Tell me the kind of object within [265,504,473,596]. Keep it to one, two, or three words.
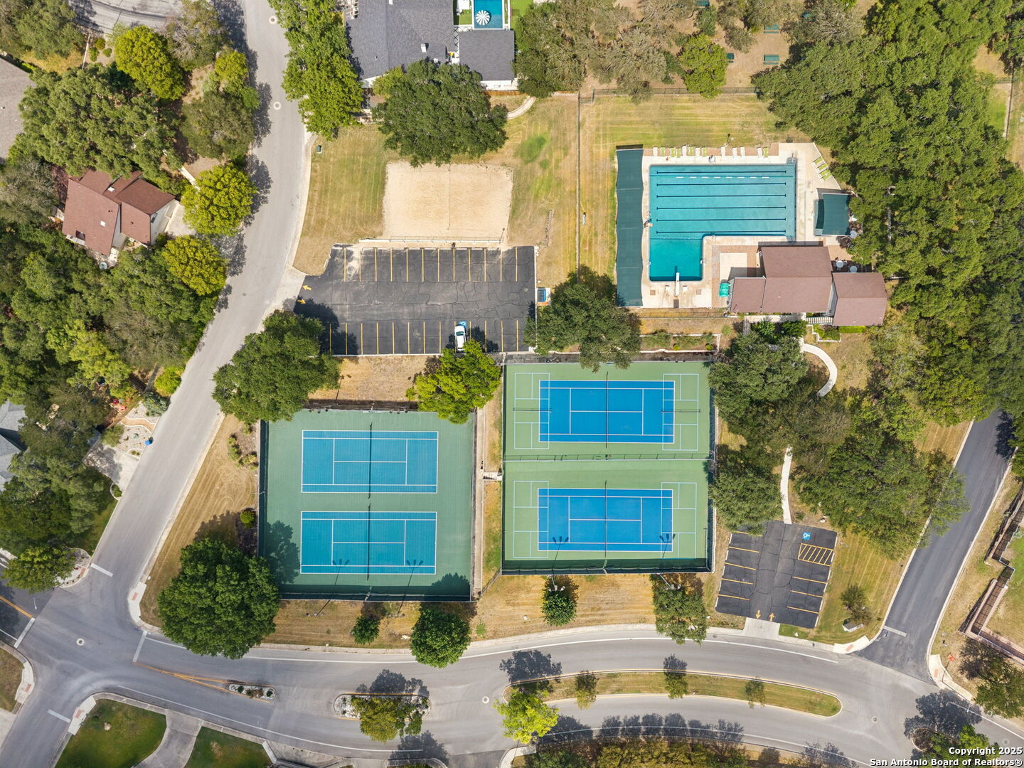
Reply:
tennis court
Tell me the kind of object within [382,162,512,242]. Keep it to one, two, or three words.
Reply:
sports court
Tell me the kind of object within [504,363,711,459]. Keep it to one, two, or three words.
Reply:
tennis court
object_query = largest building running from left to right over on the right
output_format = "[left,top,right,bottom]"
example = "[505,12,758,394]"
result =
[728,246,887,326]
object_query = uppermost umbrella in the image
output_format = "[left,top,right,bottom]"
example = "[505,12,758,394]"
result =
[476,11,490,26]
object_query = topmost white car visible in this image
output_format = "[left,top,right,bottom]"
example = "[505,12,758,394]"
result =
[454,325,467,351]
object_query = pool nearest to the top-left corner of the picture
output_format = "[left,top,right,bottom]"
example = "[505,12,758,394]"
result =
[472,0,505,30]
